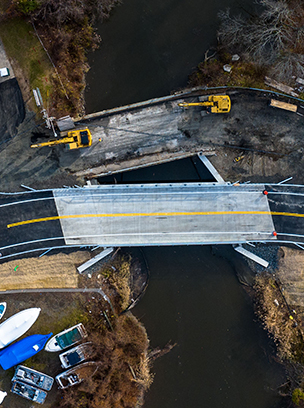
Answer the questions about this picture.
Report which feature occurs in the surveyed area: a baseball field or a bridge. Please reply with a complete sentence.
Looking from above, you can make out a bridge.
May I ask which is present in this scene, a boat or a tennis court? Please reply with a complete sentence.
Looking from above, you can make out a boat.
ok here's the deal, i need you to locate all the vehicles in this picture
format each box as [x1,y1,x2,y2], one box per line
[179,95,231,113]
[33,130,93,149]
